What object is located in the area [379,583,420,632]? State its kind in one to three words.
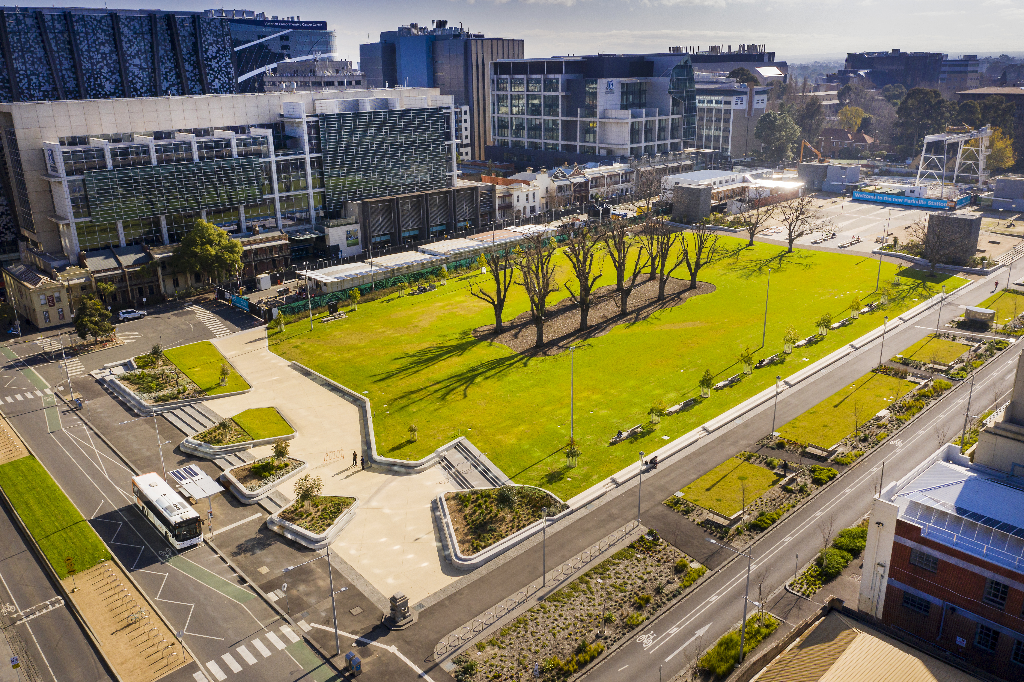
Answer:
fountain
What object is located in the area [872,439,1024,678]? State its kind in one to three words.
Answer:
building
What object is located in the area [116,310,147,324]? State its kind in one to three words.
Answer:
car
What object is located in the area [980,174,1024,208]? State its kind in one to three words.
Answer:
house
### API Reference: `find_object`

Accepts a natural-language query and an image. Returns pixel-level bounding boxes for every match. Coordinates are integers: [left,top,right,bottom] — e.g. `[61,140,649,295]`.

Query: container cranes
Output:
[917,122,998,197]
